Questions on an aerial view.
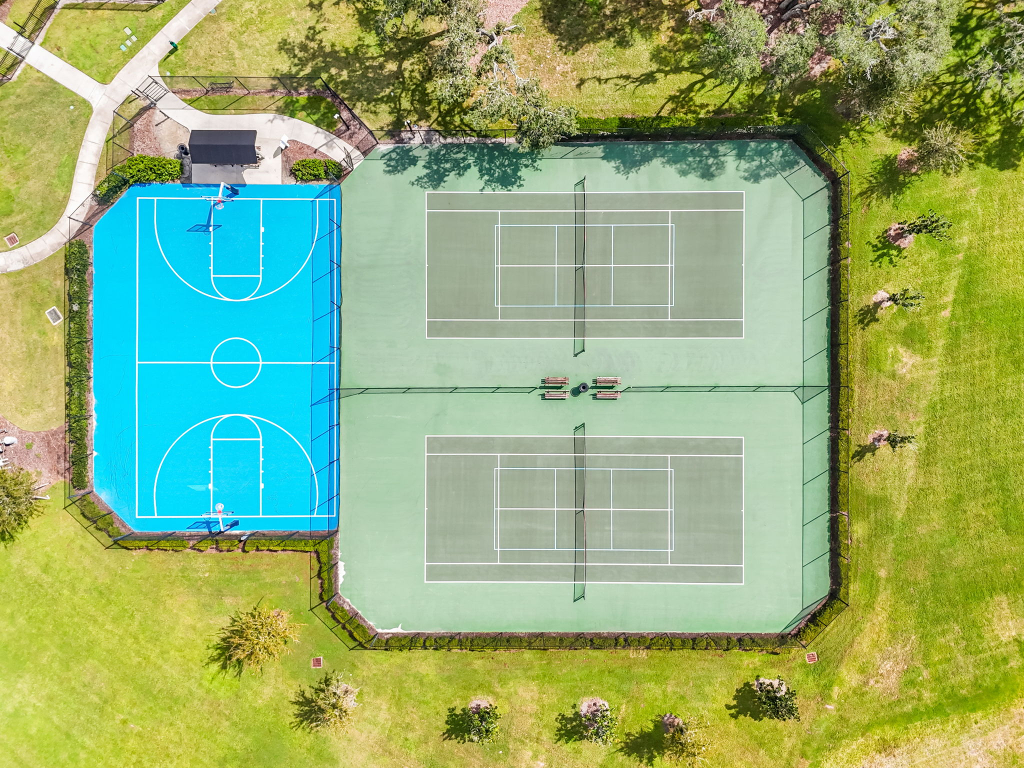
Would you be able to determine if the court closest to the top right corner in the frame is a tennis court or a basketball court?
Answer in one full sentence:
In the photo, the court closest to the top right corner shows up as a tennis court.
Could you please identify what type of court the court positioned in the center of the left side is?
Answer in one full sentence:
From above, the court positioned in the center of the left side can be identified as a basketball court.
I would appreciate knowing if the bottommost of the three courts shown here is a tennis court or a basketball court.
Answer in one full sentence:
It turns out the bottommost of the three courts is a tennis court.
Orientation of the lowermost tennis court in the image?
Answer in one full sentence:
Seen from above, the lowermost tennis court lies horizontally.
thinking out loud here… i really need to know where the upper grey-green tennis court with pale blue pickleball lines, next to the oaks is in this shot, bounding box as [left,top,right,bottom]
[427,192,744,338]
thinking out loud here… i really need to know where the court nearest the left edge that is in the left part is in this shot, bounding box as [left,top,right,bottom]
[93,184,341,531]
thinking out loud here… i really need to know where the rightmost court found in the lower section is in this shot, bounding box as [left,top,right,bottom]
[426,436,744,584]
